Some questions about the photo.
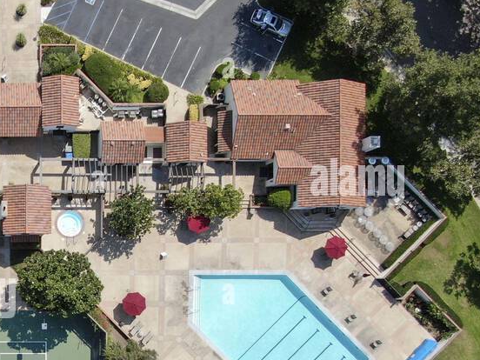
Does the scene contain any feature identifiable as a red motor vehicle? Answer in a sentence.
No, there isn't any red motor vehicle down there.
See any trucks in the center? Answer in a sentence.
No, no truck appears in the center.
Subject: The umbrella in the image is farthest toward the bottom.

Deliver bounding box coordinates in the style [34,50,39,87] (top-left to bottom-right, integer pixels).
[122,292,145,315]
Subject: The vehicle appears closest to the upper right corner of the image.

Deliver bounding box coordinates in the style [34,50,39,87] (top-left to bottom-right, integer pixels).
[247,8,295,38]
